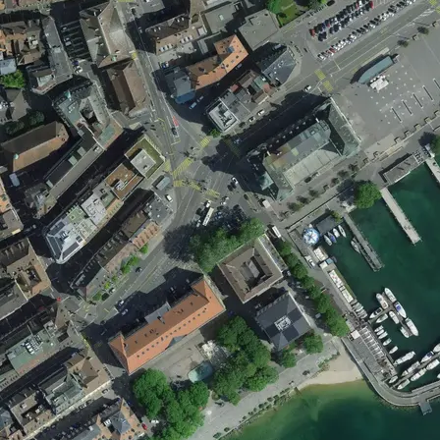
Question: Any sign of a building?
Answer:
Yes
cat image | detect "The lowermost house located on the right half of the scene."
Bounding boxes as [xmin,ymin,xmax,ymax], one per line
[256,291,314,350]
